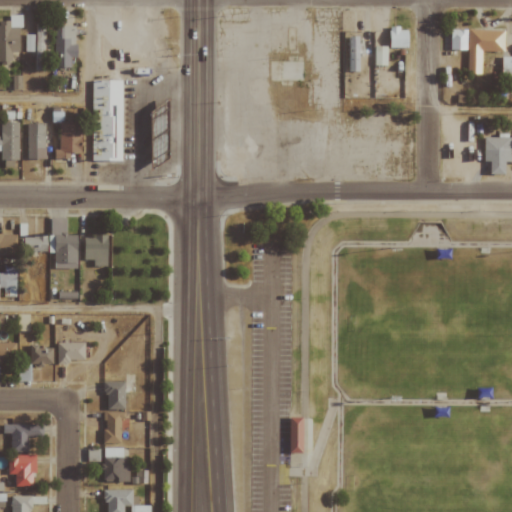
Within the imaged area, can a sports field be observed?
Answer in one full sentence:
Yes, the frame does contain a sports field.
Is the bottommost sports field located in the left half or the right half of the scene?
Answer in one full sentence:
The bottommost sports field sits on the right side.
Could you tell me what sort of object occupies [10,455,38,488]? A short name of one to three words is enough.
house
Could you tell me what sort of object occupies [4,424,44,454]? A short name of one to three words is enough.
house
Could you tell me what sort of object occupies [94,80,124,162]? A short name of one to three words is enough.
building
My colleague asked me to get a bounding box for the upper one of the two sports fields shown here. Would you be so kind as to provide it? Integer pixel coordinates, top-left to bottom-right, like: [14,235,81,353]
[334,244,512,402]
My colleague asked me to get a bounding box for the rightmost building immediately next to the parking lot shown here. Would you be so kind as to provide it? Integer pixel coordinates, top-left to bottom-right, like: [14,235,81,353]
[290,418,304,454]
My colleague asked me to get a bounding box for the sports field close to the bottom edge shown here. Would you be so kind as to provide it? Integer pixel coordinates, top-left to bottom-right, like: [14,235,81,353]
[338,403,512,512]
